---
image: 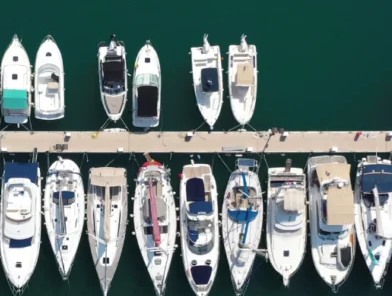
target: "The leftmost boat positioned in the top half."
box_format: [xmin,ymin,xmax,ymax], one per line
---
[0,33,34,127]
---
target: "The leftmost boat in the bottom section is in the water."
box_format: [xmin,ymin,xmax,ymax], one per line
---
[0,148,45,294]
